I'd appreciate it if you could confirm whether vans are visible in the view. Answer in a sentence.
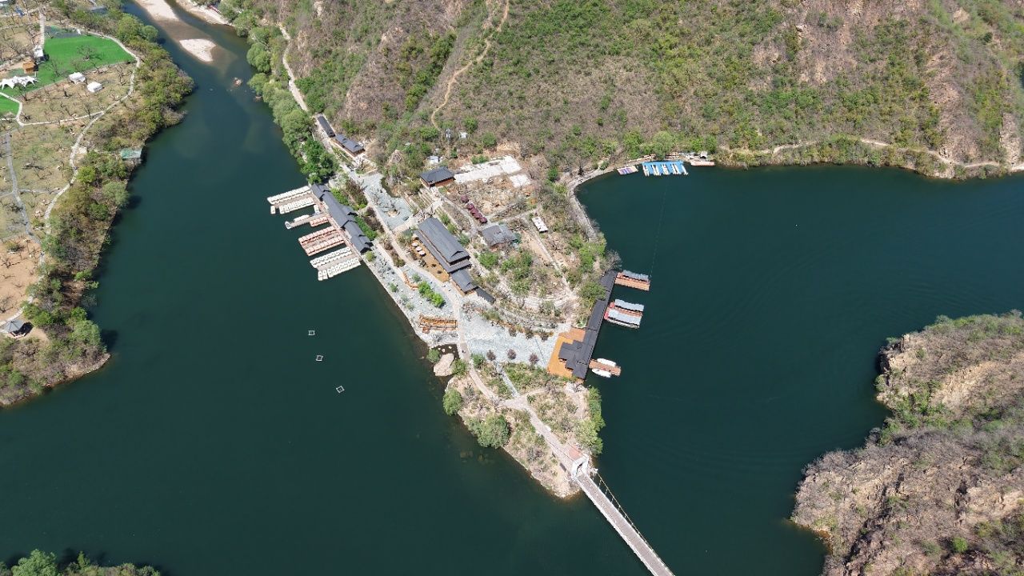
No, I find no van anywhere in the image.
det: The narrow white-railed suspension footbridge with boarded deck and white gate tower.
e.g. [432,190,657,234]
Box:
[556,447,674,576]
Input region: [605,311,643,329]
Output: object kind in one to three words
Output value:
boat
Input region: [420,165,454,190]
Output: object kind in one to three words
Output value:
house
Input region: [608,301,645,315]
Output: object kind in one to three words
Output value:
boat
